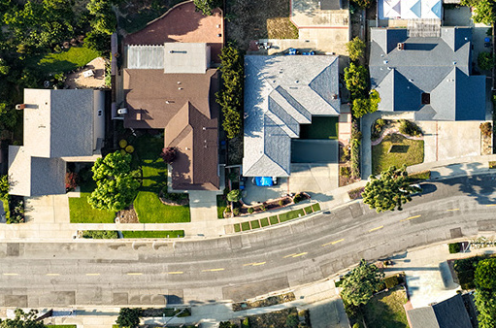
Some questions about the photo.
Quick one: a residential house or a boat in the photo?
residential house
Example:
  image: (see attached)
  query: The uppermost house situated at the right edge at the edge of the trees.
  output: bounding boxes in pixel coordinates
[368,27,487,122]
